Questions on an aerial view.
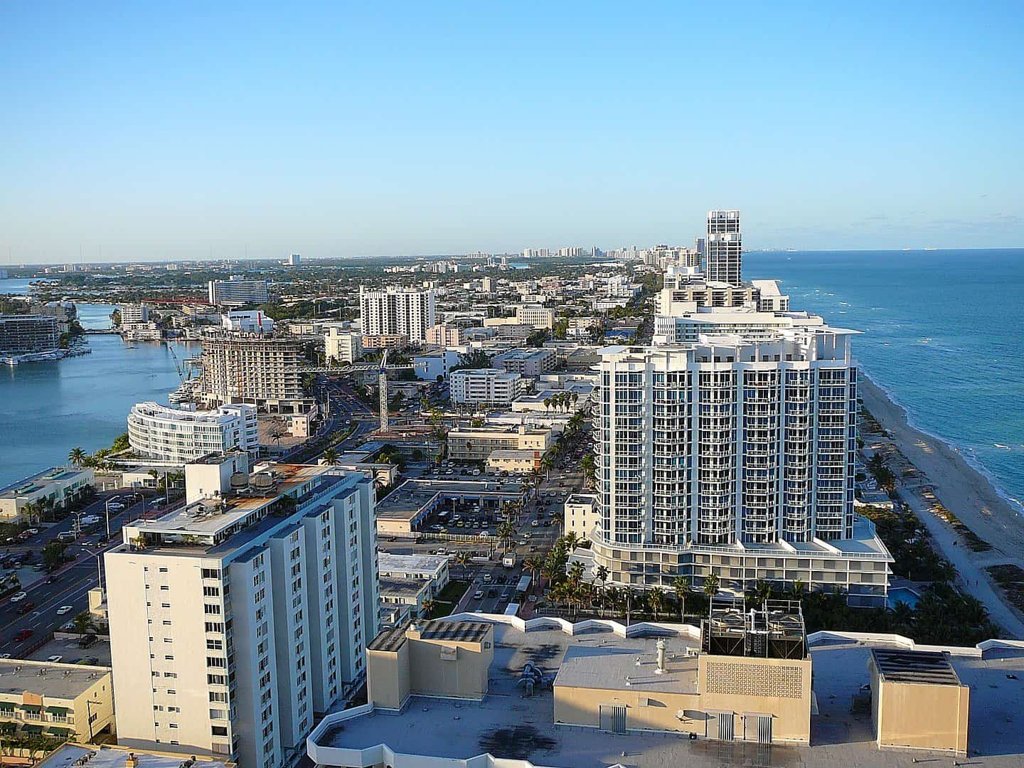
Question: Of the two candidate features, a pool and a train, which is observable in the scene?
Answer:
pool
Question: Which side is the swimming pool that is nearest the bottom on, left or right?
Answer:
right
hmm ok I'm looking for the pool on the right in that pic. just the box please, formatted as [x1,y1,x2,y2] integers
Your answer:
[882,584,924,614]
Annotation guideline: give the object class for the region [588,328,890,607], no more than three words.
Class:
building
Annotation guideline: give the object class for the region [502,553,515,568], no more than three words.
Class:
vehicle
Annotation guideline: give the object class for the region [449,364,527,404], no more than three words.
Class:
building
